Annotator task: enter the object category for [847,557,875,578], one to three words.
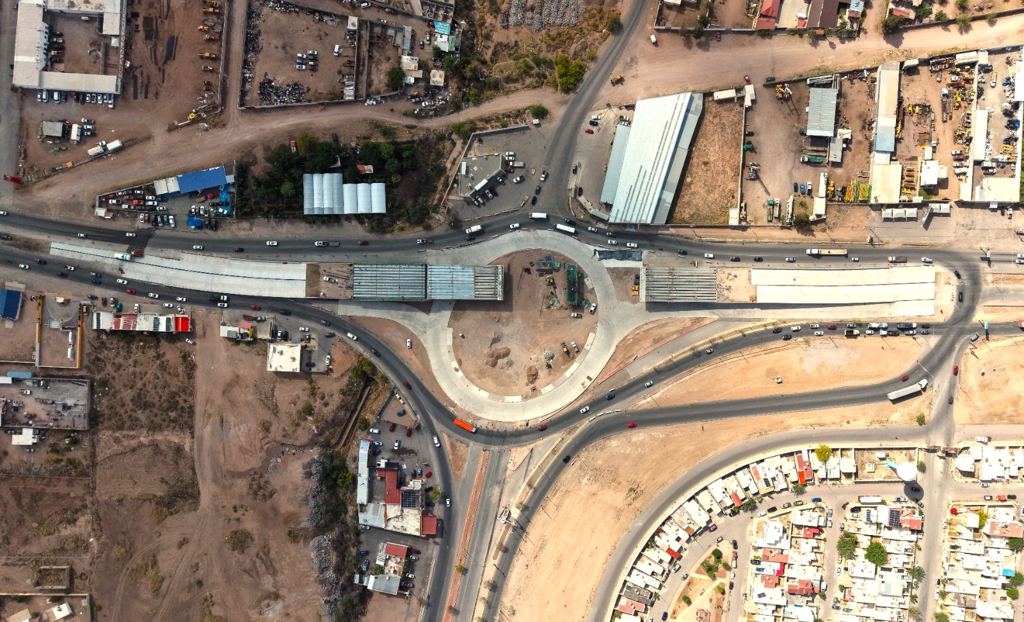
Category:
house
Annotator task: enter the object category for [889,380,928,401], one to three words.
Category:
truck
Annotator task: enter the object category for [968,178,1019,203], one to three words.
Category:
shed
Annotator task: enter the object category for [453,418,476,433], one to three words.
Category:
vehicle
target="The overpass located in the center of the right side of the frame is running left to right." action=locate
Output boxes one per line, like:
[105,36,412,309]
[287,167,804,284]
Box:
[639,266,935,303]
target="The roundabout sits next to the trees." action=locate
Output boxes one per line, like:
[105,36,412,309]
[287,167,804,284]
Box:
[338,230,936,421]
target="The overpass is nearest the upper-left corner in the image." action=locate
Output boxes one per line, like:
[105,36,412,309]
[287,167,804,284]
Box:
[51,242,504,301]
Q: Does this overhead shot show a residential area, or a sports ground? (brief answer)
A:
residential area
